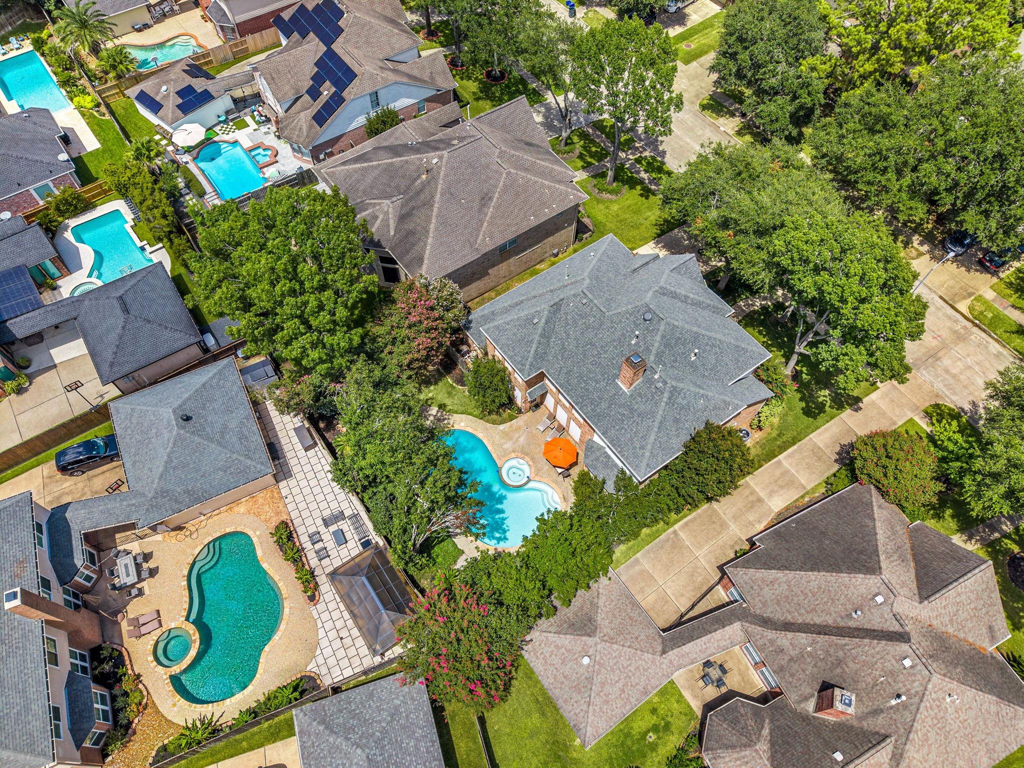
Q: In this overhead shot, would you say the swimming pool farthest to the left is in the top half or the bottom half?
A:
top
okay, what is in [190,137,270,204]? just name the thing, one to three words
swimming pool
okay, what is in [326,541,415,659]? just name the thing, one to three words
gazebo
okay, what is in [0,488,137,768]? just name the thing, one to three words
building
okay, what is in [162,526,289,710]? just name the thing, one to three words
swimming pool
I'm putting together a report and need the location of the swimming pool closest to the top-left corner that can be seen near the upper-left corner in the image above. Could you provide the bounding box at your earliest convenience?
[0,48,73,113]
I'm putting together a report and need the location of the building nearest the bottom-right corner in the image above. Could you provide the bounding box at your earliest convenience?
[697,479,1024,768]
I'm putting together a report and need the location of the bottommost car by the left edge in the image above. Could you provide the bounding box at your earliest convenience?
[51,430,119,477]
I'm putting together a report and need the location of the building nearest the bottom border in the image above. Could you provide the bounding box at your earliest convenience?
[292,672,447,768]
